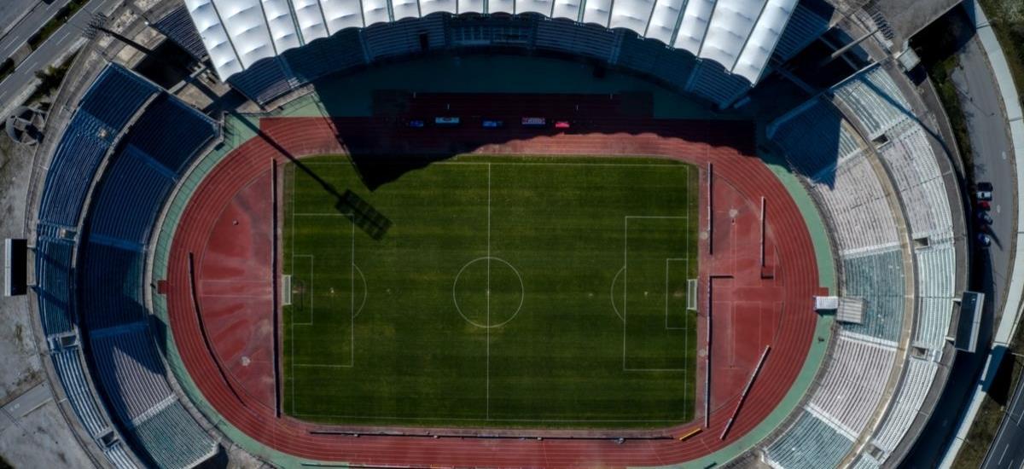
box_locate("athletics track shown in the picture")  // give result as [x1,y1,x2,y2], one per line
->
[159,92,829,469]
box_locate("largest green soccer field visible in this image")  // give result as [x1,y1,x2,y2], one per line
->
[284,154,698,427]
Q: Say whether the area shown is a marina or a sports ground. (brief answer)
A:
sports ground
